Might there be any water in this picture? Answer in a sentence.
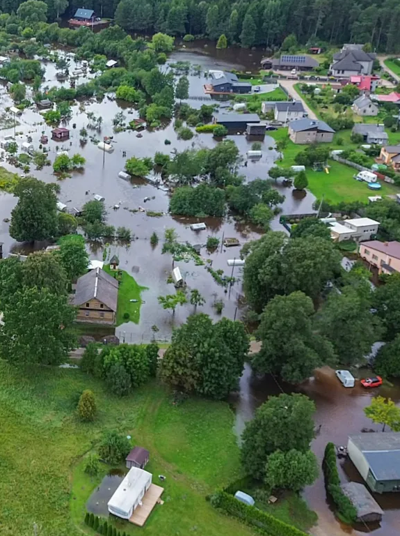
Yes, some water is visible.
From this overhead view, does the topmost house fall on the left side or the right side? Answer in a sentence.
The topmost house appears in the left half of the scene.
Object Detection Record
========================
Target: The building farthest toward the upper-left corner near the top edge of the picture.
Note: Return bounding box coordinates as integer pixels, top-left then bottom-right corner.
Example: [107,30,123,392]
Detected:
[75,7,110,36]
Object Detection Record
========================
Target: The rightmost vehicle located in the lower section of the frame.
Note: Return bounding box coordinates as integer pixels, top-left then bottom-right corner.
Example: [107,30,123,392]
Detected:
[361,374,382,388]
